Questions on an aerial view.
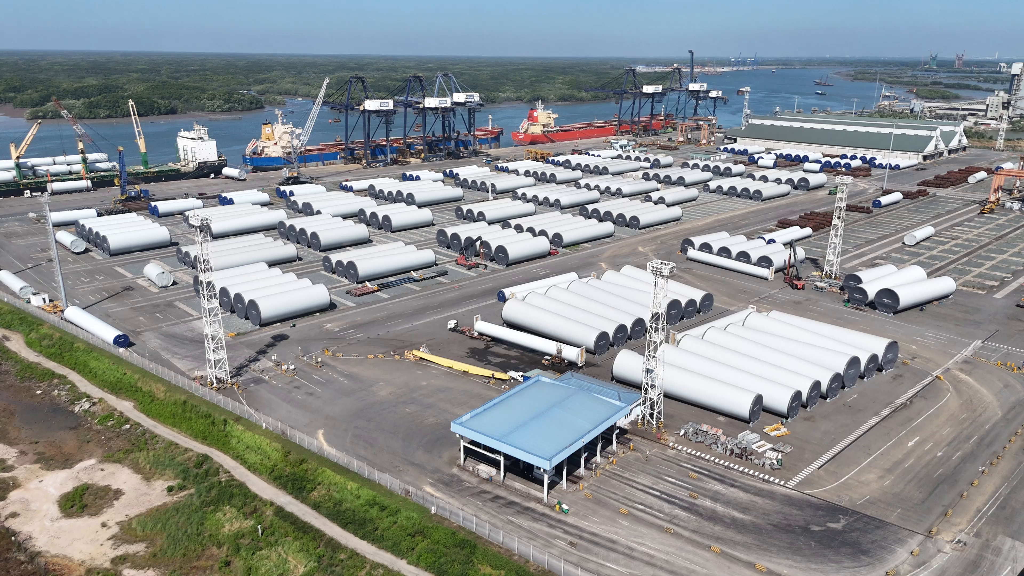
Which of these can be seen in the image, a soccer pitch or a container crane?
container crane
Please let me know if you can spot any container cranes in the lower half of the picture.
No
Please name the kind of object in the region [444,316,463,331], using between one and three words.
vehicle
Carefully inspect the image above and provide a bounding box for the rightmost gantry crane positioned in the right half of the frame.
[991,162,1024,208]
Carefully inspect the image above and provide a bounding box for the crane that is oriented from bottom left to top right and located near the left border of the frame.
[8,121,44,180]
